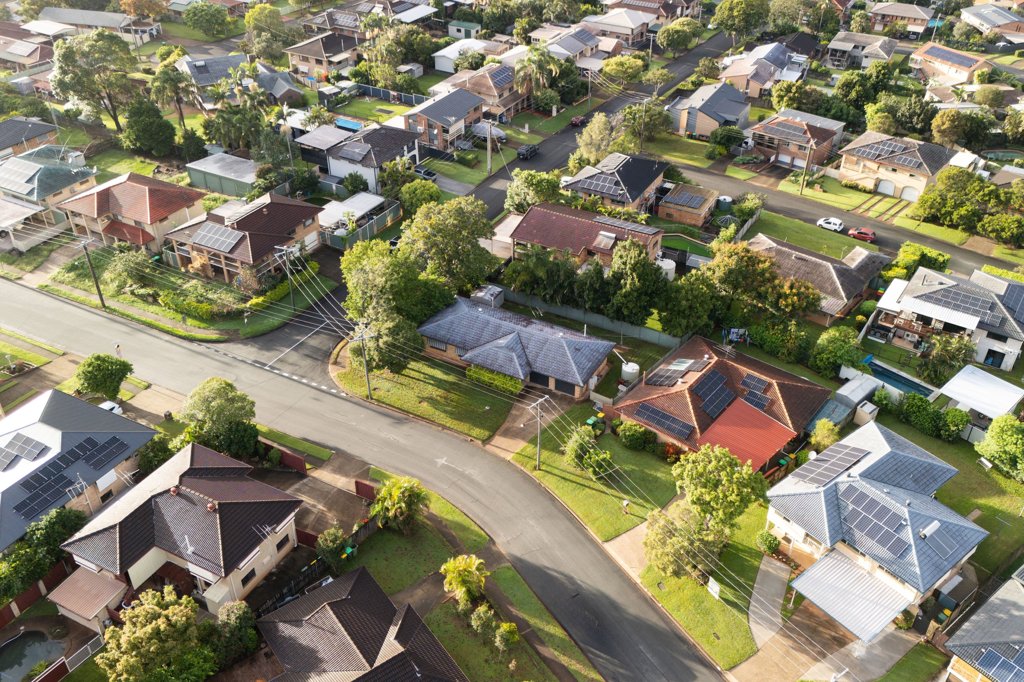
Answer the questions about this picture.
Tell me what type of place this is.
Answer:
residential area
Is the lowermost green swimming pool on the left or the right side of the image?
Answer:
right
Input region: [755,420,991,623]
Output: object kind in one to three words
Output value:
house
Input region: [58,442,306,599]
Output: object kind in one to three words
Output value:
house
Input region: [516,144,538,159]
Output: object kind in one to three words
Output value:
car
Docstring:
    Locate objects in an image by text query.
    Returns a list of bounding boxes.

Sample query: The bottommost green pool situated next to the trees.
[664,235,703,258]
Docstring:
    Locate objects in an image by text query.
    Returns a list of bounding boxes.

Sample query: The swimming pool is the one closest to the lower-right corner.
[864,359,930,394]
